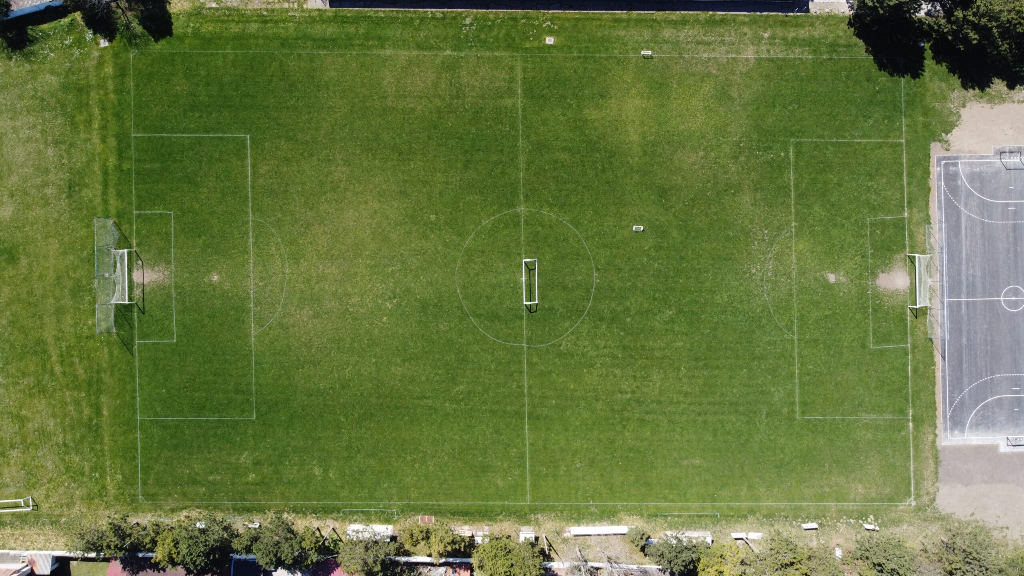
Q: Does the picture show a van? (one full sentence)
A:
No, there's no van here.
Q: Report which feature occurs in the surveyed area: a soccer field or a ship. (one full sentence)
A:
Looking from above, you can make out a soccer field.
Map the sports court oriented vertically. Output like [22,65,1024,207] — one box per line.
[936,144,1024,453]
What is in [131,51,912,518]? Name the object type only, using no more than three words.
soccer field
